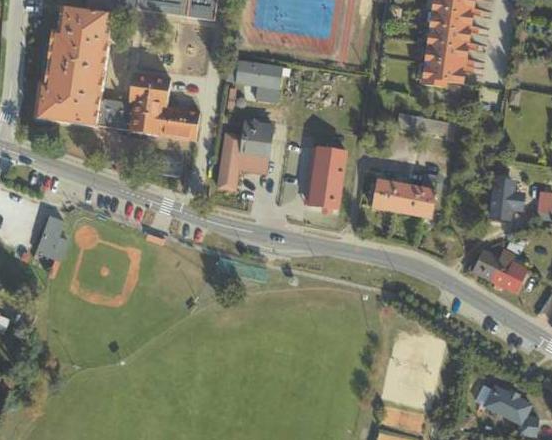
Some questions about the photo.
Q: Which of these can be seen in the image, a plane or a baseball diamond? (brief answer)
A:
baseball diamond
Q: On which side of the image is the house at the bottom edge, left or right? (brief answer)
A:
right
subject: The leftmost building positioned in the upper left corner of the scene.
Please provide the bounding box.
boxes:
[36,6,109,128]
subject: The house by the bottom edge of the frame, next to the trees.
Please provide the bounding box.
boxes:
[477,383,539,437]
